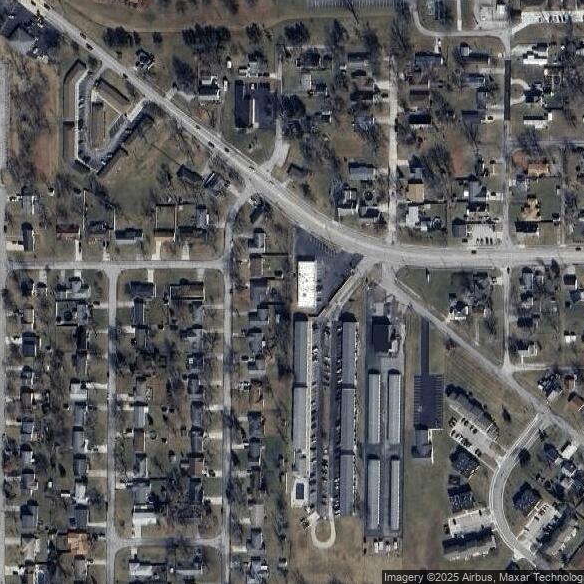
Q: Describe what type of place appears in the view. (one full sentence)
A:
What you see here is a residential area.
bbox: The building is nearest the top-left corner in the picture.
[5,26,35,57]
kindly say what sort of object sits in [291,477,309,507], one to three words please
swimming pool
